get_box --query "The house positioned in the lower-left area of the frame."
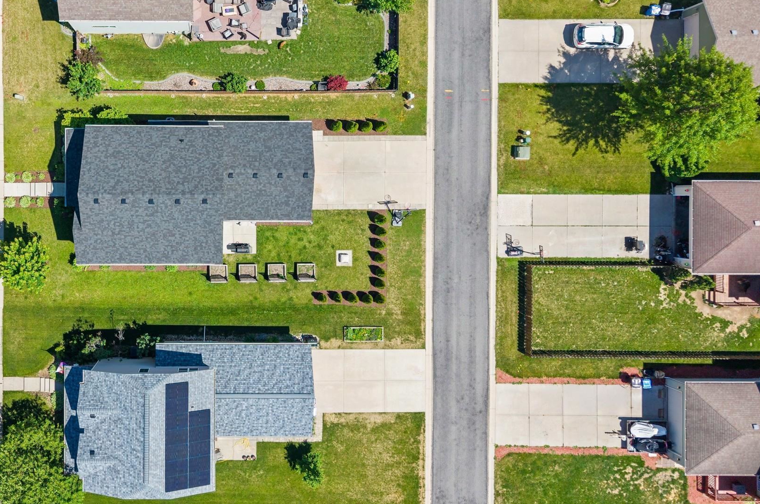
[64,316,312,503]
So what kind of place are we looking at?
residential area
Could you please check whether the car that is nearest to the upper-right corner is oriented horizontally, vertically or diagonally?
horizontally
